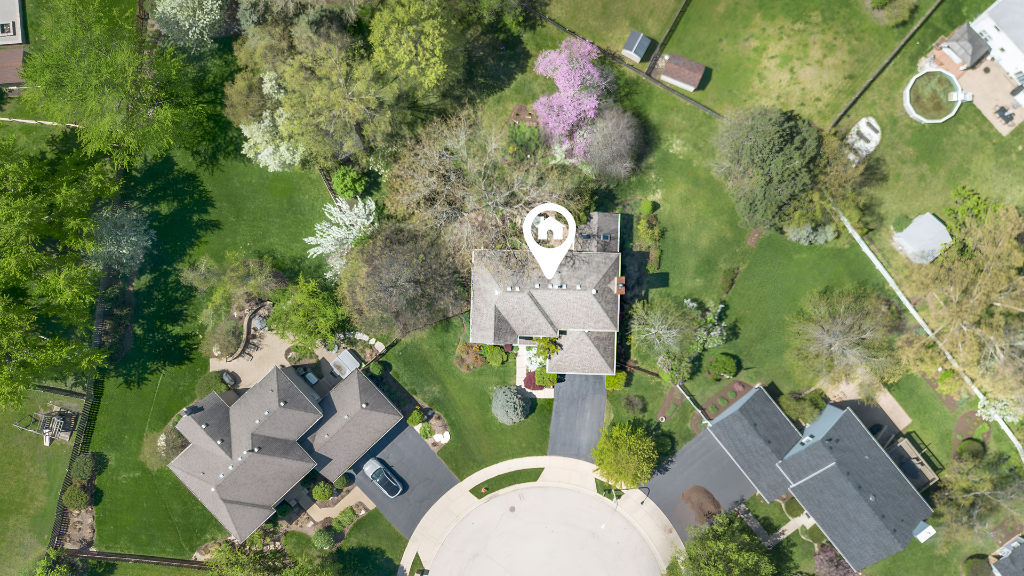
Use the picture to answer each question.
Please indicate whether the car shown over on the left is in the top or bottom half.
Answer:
bottom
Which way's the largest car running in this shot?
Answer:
on a diagonal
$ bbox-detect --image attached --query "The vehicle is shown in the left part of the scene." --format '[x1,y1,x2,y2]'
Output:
[364,455,402,501]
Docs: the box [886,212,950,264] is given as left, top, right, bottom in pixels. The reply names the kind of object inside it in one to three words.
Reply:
building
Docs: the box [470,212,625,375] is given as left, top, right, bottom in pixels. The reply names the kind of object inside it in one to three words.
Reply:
house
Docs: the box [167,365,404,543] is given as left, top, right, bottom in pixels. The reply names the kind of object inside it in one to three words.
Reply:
house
